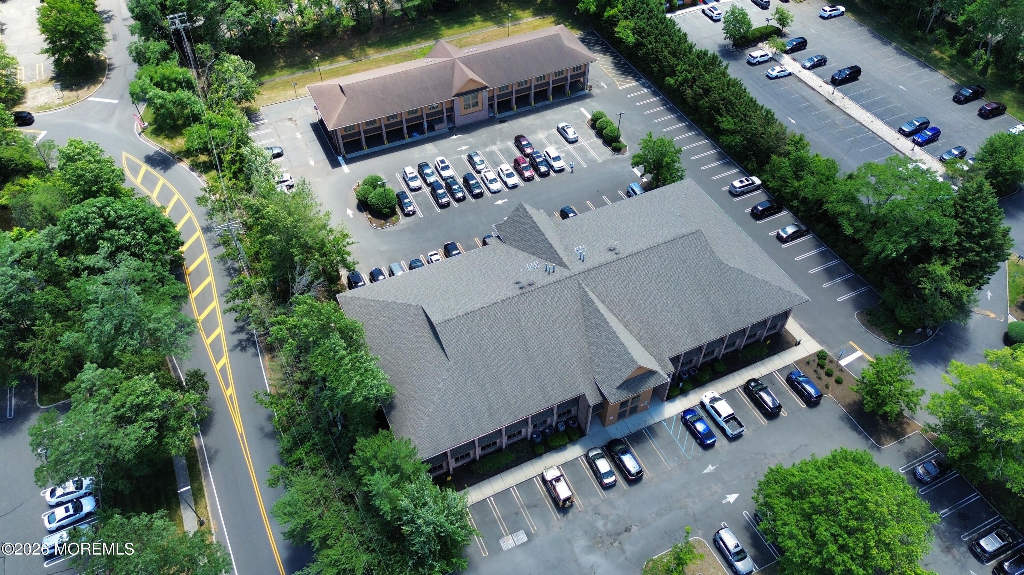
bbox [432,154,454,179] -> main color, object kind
white car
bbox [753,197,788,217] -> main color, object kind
black car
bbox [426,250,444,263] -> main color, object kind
white vehicle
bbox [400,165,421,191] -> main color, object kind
white car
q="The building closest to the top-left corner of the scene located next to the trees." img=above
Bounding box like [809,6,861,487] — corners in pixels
[306,25,597,158]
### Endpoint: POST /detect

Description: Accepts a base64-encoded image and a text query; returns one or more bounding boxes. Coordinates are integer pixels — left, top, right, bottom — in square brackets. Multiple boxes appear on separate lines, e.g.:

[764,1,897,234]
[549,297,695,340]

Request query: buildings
[341,178,811,481]
[306,25,597,158]
[662,0,700,8]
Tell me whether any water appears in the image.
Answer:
No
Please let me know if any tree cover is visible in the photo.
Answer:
Yes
